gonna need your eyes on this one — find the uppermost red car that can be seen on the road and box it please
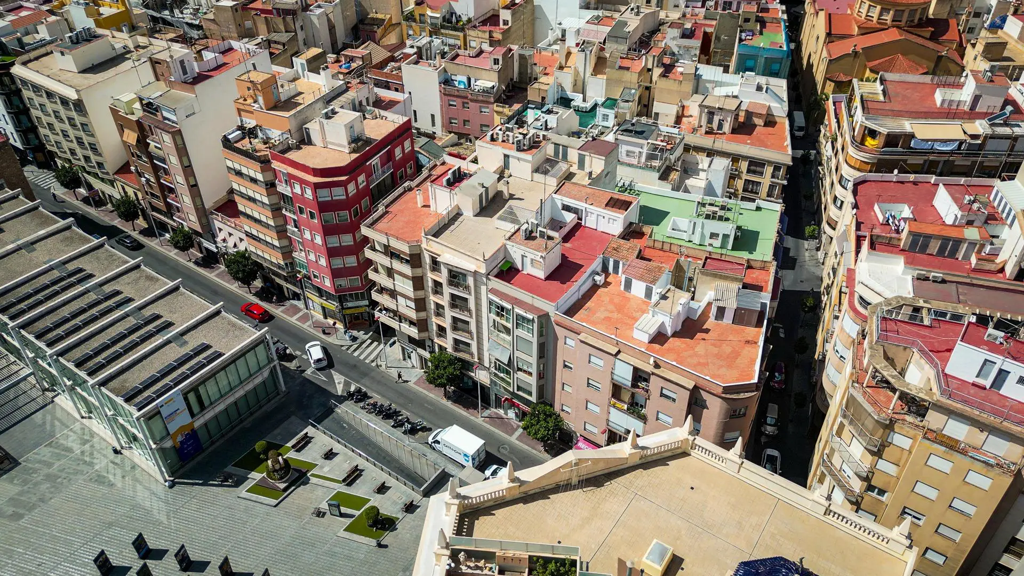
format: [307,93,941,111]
[242,302,271,321]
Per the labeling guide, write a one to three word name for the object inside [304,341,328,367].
car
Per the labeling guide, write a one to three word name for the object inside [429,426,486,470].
truck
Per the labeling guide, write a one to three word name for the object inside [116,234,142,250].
car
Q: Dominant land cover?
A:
buildings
